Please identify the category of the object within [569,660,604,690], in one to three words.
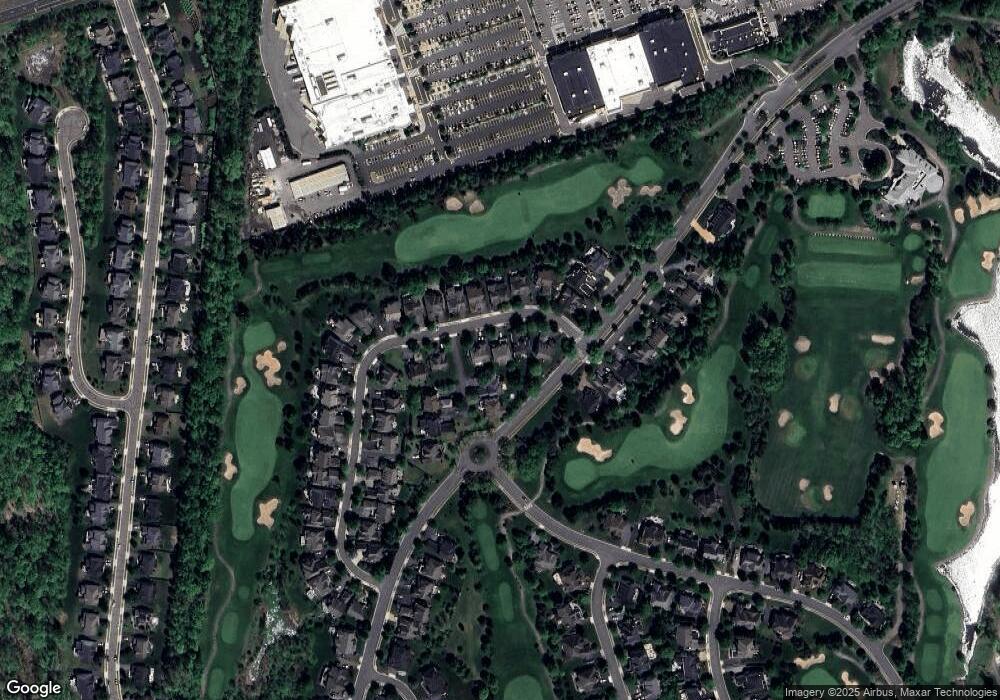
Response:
house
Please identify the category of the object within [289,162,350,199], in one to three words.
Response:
building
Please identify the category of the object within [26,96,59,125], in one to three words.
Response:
house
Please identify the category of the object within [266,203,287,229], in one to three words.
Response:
building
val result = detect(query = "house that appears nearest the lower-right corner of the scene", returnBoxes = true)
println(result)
[856,598,885,637]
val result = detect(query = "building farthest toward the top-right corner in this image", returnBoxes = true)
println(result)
[880,140,944,210]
